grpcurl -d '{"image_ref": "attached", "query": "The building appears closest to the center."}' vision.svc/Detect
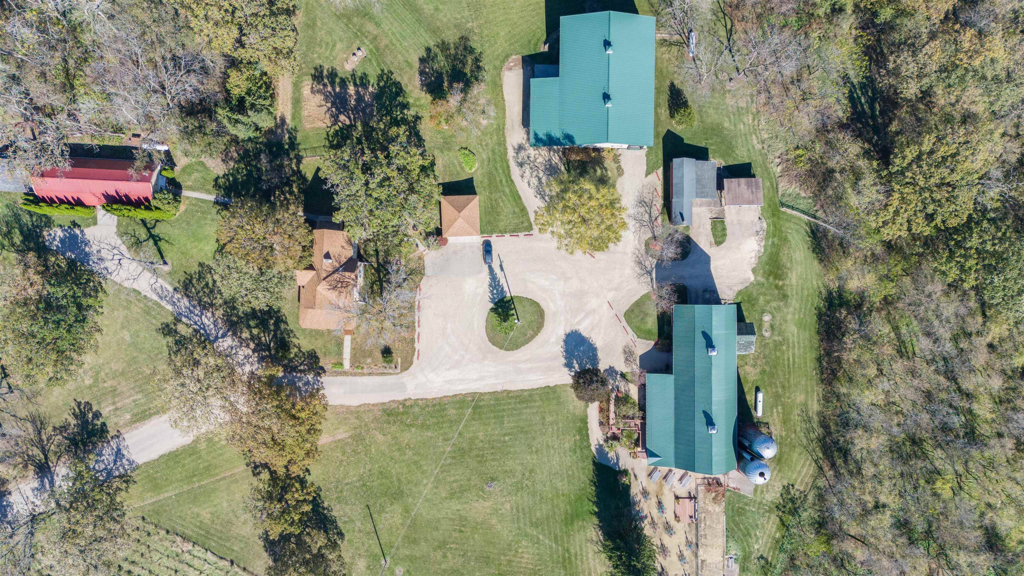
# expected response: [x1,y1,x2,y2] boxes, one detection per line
[442,195,480,236]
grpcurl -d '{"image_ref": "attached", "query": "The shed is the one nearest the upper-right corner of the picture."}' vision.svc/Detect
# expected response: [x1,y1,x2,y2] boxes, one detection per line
[721,178,764,207]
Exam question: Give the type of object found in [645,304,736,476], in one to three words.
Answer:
barn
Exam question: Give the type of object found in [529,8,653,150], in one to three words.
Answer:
barn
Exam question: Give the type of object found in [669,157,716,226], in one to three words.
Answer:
shed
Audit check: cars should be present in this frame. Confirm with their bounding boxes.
[481,239,494,265]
